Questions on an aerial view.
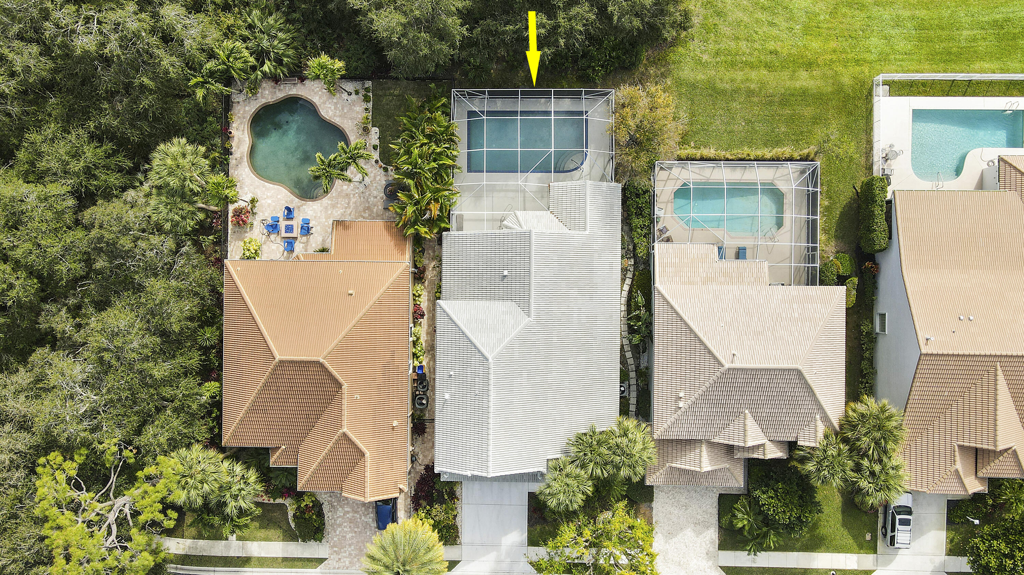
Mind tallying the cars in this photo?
2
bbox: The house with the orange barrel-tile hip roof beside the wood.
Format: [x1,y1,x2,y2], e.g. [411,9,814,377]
[221,219,414,503]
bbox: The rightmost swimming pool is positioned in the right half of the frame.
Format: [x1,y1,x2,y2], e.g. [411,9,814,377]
[909,103,1024,188]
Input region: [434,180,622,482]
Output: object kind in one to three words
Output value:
house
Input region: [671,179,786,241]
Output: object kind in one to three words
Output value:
swimming pool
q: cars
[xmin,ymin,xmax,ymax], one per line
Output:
[371,497,398,531]
[881,488,915,551]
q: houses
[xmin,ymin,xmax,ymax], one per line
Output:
[644,243,847,489]
[434,180,622,482]
[874,155,1024,496]
[221,219,414,503]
